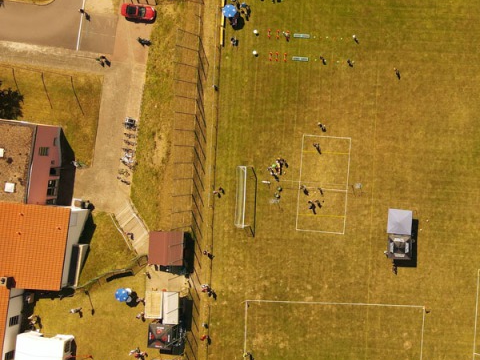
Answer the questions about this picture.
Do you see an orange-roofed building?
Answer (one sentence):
Yes, an orange-roofed building can be made out from above.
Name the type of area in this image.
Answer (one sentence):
The picture captures a sports ground.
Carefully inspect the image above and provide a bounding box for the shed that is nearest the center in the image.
[146,233,187,268]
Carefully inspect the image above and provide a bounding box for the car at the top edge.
[123,5,156,22]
